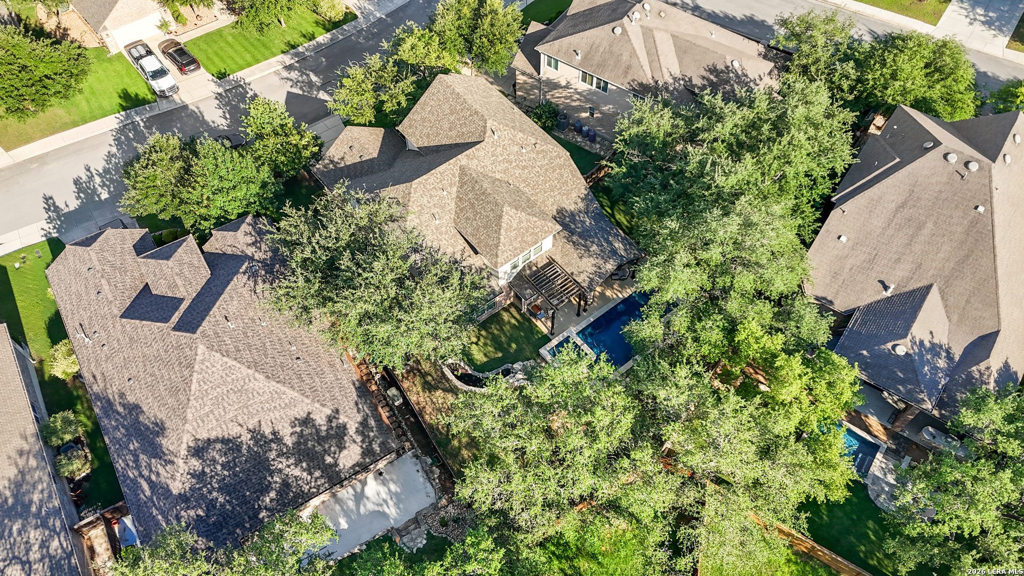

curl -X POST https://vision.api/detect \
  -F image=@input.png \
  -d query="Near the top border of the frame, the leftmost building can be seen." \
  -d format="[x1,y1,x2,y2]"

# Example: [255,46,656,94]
[69,0,176,51]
